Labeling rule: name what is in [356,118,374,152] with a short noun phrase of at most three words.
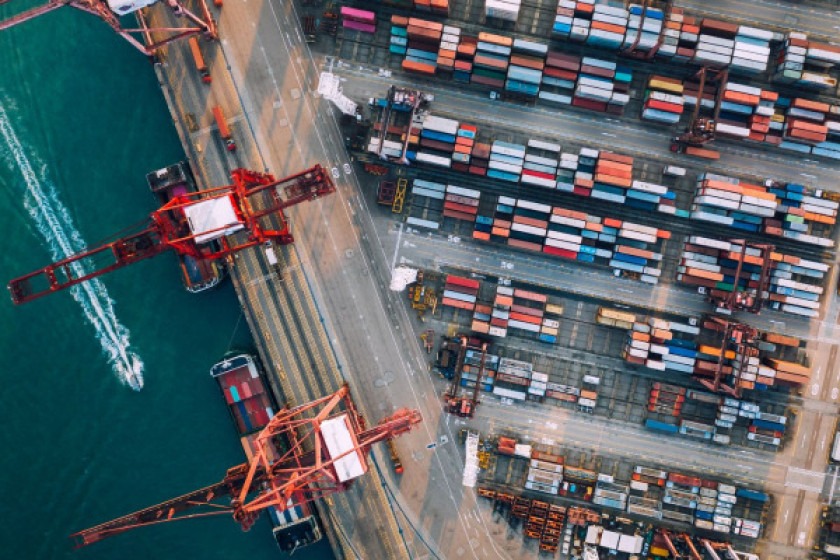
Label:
work vehicle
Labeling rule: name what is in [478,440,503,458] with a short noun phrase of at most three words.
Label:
work vehicle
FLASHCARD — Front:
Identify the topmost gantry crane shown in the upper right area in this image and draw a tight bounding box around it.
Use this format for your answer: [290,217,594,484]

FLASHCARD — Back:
[608,0,660,63]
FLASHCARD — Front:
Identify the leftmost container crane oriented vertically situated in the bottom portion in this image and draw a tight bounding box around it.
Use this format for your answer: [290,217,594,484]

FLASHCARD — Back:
[443,332,486,411]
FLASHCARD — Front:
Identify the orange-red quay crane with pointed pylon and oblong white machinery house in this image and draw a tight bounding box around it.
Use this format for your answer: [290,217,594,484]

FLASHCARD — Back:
[58,377,420,553]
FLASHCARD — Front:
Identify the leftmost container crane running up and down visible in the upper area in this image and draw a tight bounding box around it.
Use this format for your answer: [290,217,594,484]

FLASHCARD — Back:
[380,84,423,167]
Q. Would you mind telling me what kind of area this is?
port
